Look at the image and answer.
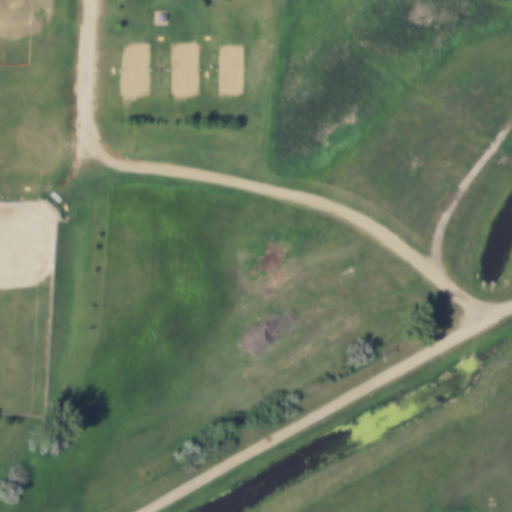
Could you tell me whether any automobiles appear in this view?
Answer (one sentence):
No, there appears to be no automobile in this shot.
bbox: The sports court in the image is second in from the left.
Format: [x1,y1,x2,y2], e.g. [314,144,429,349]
[170,42,200,99]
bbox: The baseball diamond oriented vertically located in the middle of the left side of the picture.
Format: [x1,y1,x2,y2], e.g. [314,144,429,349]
[0,200,61,415]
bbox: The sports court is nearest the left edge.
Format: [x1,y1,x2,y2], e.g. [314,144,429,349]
[120,42,151,101]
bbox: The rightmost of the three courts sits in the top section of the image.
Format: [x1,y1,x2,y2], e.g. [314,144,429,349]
[218,45,244,96]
